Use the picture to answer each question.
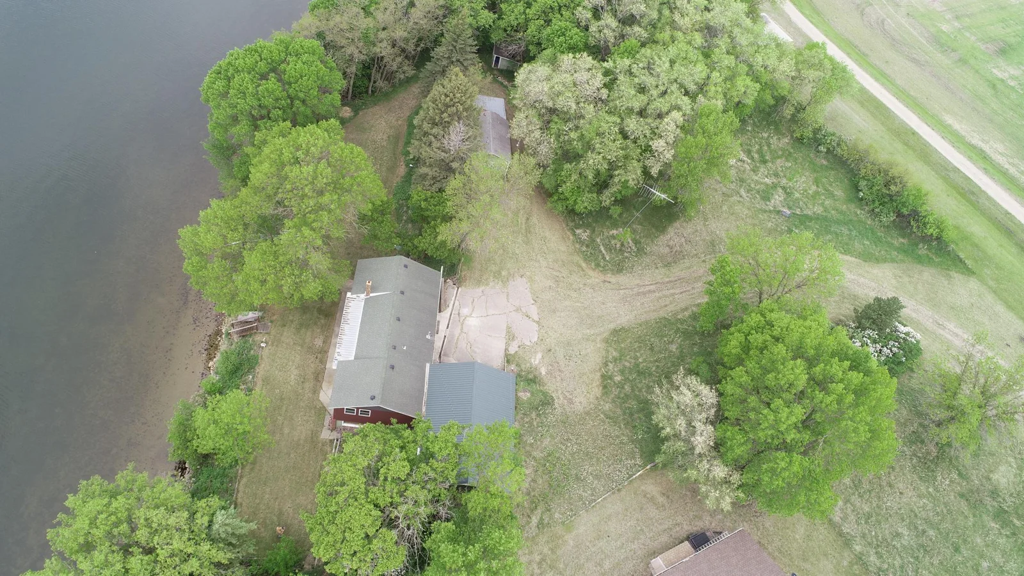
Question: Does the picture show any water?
Yes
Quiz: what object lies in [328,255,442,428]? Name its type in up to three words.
house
